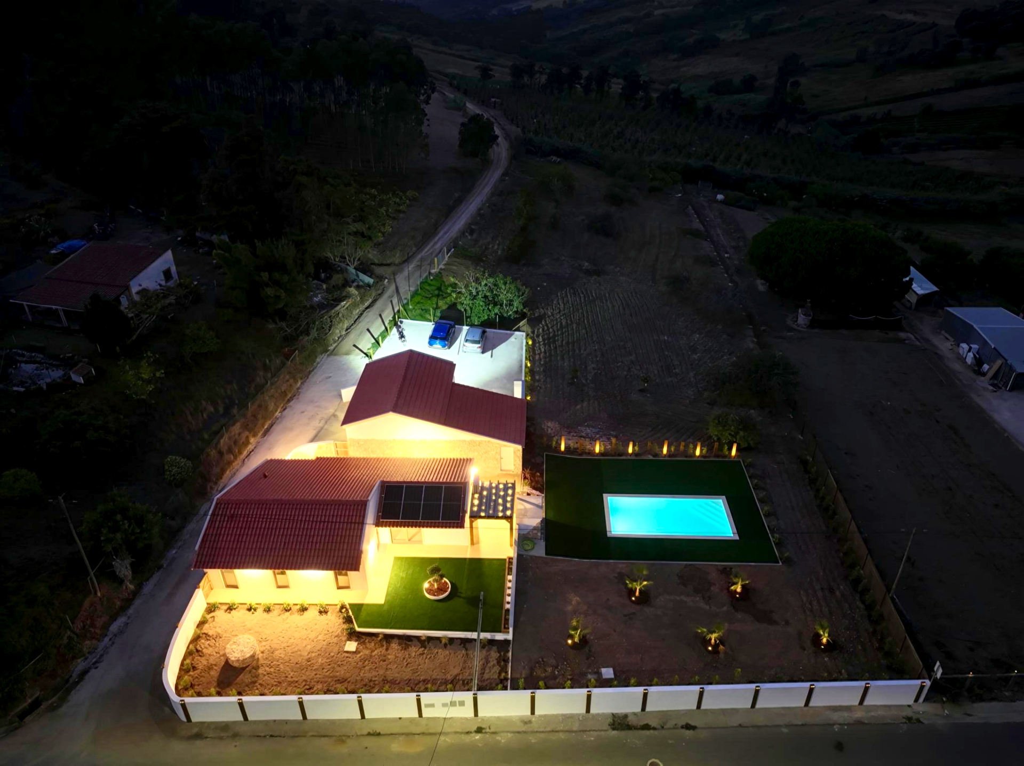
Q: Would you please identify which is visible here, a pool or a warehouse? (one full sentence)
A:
There is a pool in the scene.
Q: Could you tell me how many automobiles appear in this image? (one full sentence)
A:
The photo contains 2 automobiles.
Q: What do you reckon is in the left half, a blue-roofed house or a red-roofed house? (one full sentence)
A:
Looking in the left half, you will find a red-roofed house.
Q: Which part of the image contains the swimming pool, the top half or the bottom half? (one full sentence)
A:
The swimming pool is in the bottom half of the image.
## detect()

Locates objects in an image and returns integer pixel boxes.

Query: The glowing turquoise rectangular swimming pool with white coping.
[603,494,739,540]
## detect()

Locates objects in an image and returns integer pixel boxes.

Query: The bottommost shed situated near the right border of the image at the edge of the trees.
[939,305,1024,396]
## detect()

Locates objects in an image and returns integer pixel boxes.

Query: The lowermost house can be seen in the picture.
[193,456,480,592]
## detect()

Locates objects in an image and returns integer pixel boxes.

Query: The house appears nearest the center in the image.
[340,348,528,493]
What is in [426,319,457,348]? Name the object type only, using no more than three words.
car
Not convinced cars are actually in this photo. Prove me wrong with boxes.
[426,319,457,348]
[462,325,487,352]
